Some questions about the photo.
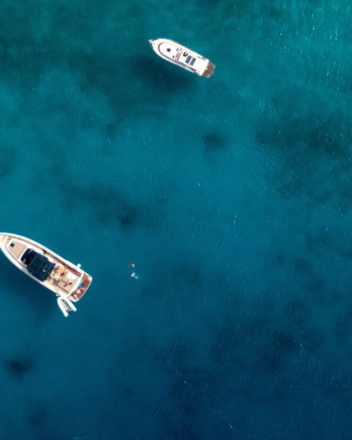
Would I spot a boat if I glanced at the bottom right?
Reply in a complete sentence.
No, at the bottom right there is no boat.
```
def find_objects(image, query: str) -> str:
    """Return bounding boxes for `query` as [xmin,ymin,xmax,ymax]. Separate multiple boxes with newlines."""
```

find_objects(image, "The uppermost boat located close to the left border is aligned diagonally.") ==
[0,233,93,302]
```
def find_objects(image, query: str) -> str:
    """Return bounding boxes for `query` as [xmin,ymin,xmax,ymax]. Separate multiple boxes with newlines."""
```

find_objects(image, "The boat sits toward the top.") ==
[150,38,215,78]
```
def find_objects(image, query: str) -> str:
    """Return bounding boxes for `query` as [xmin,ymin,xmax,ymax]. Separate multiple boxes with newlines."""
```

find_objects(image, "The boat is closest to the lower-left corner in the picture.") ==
[60,296,74,315]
